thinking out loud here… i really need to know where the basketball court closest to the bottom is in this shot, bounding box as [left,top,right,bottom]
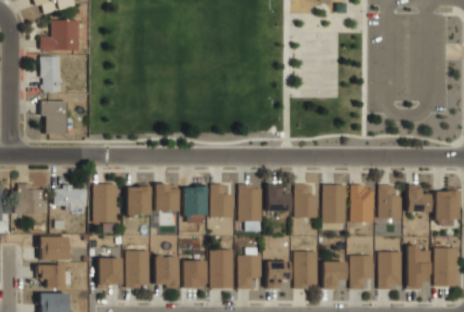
[298,33,340,98]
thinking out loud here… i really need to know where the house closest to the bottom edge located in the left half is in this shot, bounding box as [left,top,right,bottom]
[42,294,72,312]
